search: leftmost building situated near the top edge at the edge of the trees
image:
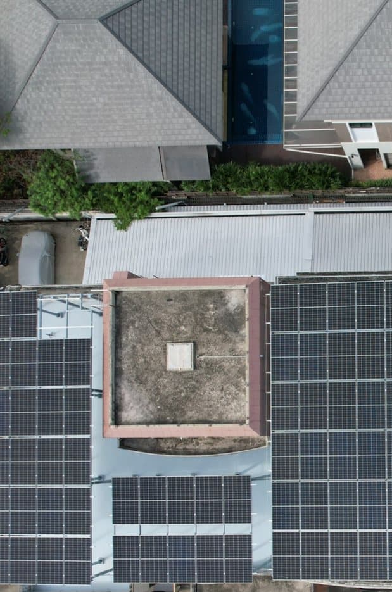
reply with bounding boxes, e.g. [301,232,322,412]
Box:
[0,0,225,156]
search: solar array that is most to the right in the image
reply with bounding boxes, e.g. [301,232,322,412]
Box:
[266,282,392,580]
